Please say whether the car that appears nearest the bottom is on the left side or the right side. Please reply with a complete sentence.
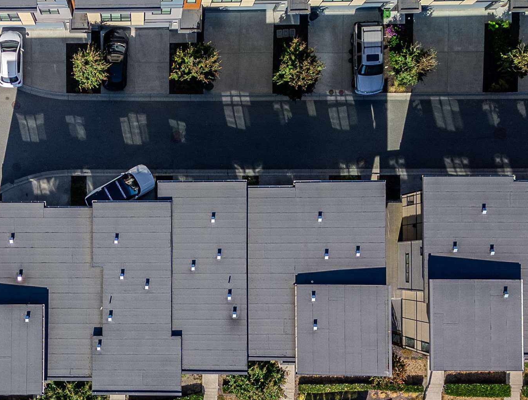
The car that appears nearest the bottom appears in the left half of the scene.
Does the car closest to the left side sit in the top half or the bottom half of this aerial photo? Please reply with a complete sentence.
The car closest to the left side sits in the top half of the picture.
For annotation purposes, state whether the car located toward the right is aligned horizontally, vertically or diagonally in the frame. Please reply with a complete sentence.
The car located toward the right runs vertically in the image.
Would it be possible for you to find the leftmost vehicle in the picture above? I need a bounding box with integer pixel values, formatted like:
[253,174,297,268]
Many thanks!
[0,28,26,90]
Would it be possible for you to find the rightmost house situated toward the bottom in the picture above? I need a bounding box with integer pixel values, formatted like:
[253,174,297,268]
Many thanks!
[392,174,528,371]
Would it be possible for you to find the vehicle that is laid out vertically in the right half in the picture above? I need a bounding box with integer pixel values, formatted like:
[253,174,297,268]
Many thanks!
[351,20,389,96]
